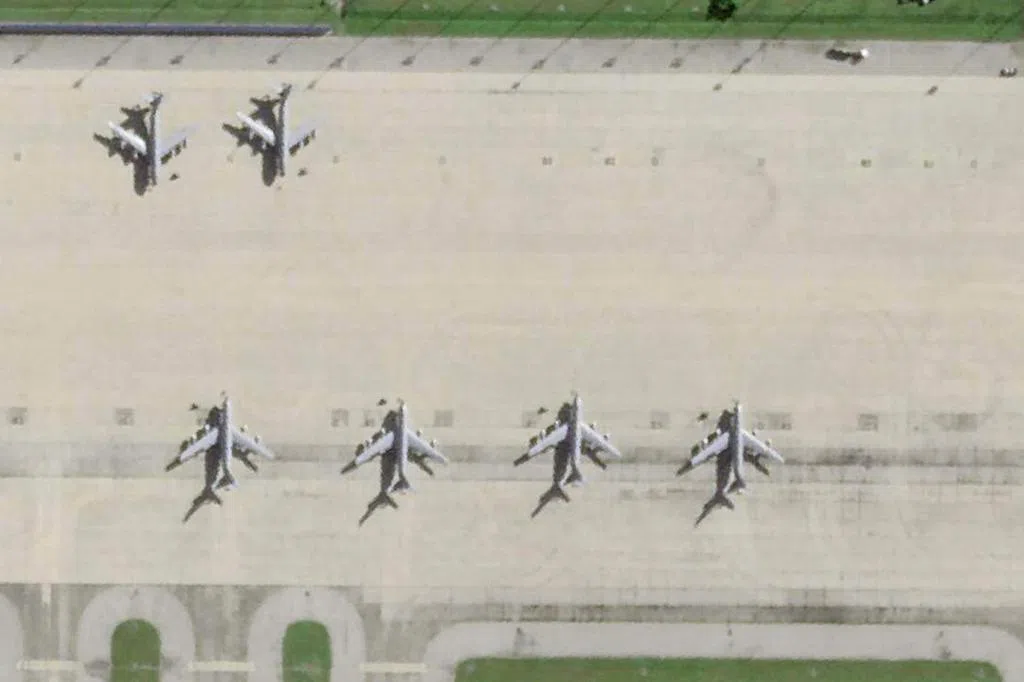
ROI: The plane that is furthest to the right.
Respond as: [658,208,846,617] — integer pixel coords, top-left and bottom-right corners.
[693,403,783,496]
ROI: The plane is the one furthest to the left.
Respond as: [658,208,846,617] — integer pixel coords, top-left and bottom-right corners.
[110,92,201,186]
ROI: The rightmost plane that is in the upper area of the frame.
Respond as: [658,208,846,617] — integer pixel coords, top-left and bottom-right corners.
[239,83,330,176]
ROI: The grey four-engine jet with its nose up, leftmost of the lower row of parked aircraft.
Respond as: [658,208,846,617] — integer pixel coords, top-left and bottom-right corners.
[181,397,272,490]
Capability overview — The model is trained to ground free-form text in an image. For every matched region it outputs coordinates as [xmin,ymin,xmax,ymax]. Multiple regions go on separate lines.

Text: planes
[358,402,448,495]
[239,83,330,176]
[693,403,783,496]
[110,92,201,186]
[532,396,622,488]
[181,397,272,490]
